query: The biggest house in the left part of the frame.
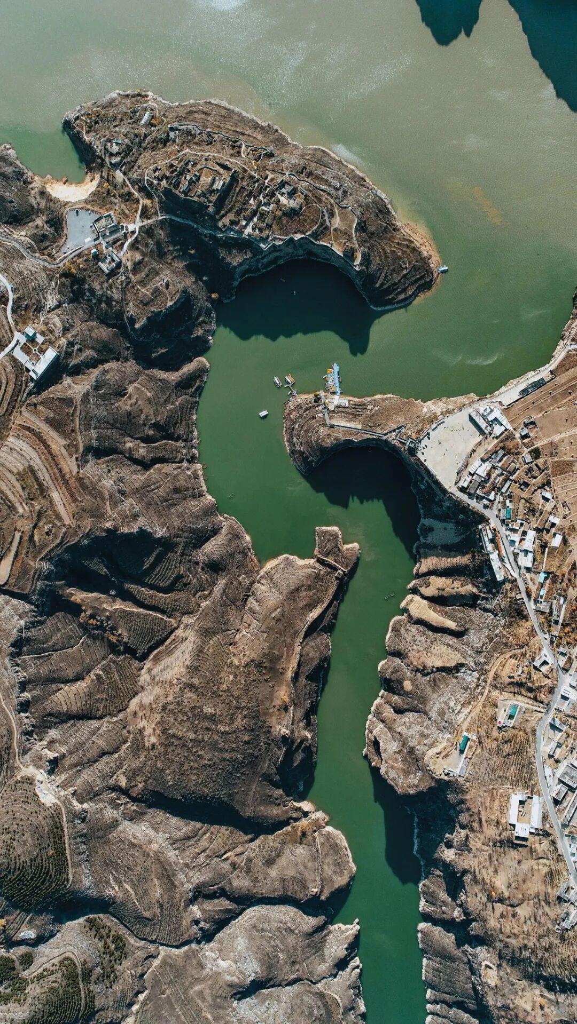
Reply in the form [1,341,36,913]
[35,348,66,379]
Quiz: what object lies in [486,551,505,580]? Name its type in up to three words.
house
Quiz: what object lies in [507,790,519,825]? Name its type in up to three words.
house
